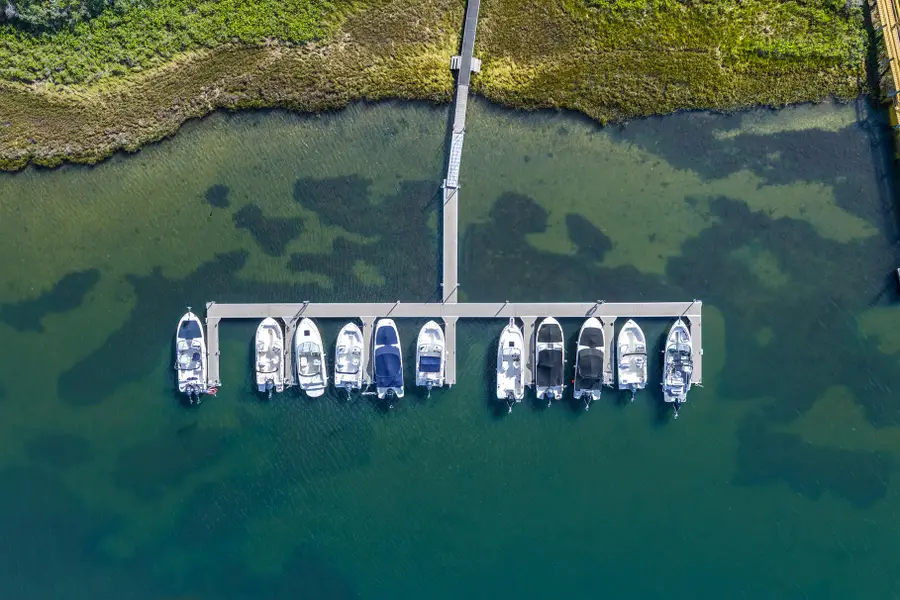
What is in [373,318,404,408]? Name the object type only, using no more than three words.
boat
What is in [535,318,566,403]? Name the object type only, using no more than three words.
boat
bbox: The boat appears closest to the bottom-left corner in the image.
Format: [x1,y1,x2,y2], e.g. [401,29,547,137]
[176,306,211,400]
